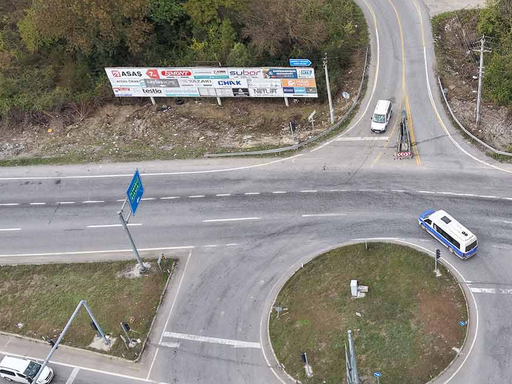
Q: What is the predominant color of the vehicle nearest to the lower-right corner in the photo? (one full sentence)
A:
The vehicle nearest to the lower-right corner looks white in the image.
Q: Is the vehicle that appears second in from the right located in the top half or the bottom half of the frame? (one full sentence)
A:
Seen from above, the vehicle that appears second in from the right lies in the top half of the view.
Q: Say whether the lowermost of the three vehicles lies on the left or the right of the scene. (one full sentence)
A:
The lowermost of the three vehicles is on the left side of the image.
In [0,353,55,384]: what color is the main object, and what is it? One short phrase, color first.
white vehicle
